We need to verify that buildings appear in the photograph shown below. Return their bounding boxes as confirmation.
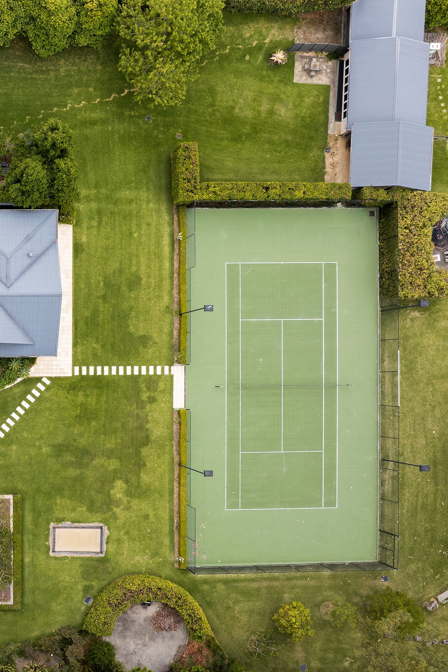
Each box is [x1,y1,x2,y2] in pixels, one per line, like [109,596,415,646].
[0,208,64,358]
[339,0,435,191]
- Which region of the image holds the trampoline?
bottom left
